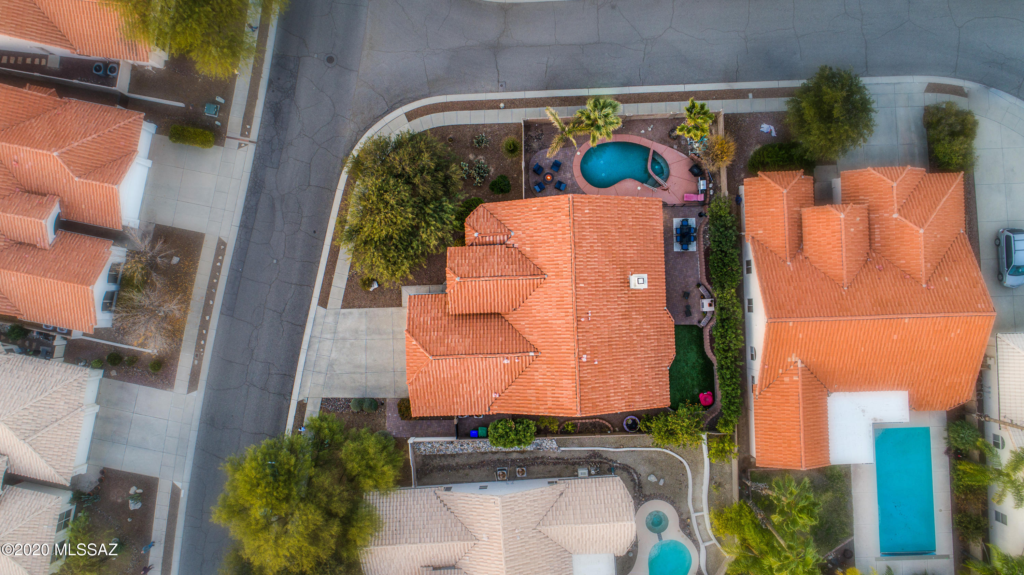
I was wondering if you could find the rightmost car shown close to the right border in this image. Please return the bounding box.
[994,230,1024,286]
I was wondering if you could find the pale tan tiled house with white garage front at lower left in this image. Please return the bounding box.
[0,355,117,575]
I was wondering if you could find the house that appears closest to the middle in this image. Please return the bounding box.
[404,193,678,418]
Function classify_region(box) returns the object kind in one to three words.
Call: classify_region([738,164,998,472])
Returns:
house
